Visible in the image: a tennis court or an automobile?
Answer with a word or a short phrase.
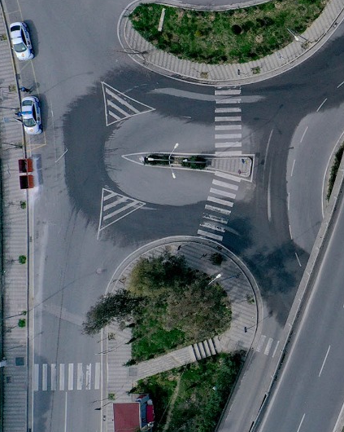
automobile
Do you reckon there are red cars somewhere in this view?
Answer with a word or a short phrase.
No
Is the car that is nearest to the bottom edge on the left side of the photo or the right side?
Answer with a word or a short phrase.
left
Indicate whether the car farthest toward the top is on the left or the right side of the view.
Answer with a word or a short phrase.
left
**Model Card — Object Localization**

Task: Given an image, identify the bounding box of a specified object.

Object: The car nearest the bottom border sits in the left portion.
[21,97,45,136]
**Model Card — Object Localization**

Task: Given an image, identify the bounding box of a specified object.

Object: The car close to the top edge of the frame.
[10,21,36,62]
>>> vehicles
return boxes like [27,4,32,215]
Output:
[21,97,45,136]
[10,21,36,62]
